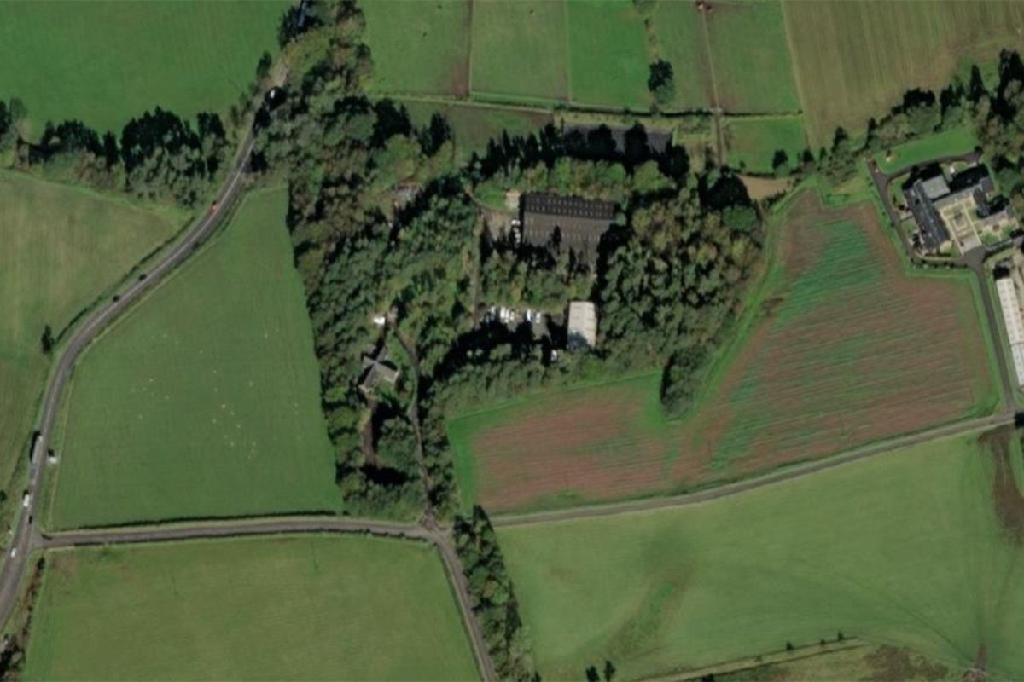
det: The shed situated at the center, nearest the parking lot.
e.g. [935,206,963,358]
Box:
[569,302,595,349]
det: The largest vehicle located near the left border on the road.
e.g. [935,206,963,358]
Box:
[29,438,42,466]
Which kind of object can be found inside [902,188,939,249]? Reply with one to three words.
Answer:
building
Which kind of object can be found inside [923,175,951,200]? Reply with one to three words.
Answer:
shed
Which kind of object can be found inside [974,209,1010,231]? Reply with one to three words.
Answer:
building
